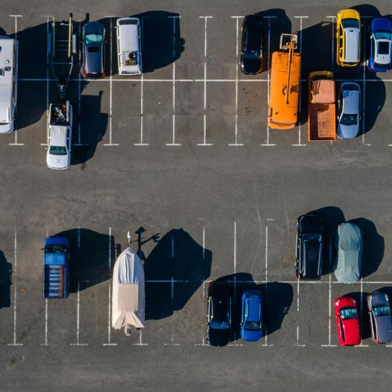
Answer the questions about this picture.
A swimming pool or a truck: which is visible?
truck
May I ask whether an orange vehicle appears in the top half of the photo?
Yes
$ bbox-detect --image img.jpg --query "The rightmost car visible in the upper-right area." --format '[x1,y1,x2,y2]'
[367,17,392,72]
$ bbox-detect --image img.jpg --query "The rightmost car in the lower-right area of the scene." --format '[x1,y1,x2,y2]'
[366,291,392,344]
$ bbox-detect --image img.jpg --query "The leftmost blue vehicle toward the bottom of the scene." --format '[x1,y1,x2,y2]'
[42,236,69,300]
